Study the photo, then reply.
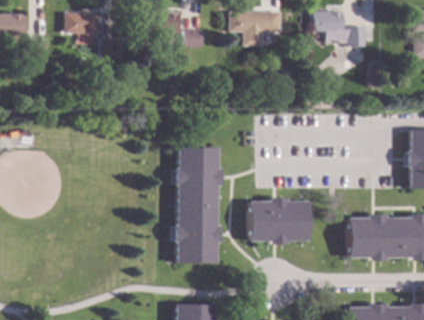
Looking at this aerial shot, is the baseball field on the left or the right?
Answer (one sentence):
It is on the left.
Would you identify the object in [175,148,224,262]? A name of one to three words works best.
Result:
building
